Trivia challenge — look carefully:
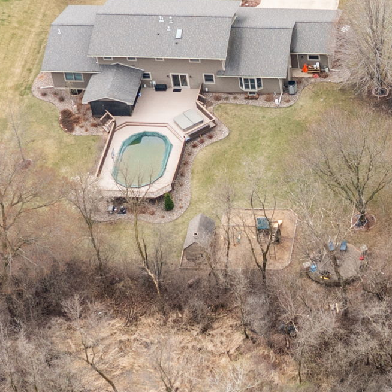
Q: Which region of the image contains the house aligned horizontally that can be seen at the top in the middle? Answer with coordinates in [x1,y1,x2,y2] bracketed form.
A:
[41,0,344,116]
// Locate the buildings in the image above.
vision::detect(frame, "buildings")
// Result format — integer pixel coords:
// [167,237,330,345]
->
[175,217,215,269]
[41,0,344,116]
